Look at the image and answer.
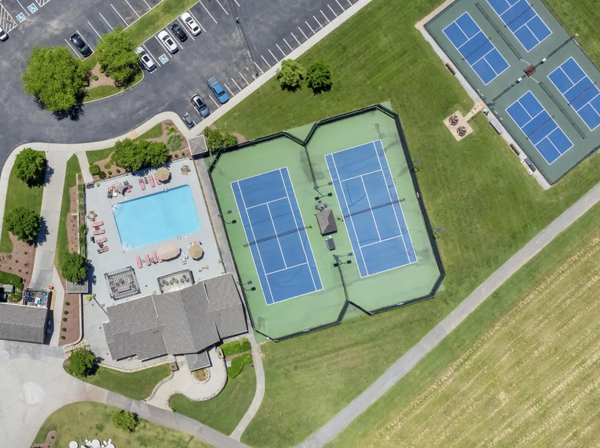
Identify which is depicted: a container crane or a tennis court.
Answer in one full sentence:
The image shows a tennis court.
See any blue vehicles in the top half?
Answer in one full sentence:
Yes, there is a blue vehicle in the top half.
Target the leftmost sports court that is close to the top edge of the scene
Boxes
[443,12,510,85]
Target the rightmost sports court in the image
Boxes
[548,57,600,131]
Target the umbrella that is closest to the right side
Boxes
[190,245,203,259]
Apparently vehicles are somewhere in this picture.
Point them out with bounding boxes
[182,115,194,129]
[70,32,91,58]
[190,93,212,118]
[157,29,179,55]
[0,24,9,42]
[137,47,157,73]
[180,12,202,37]
[171,22,188,44]
[205,75,230,105]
